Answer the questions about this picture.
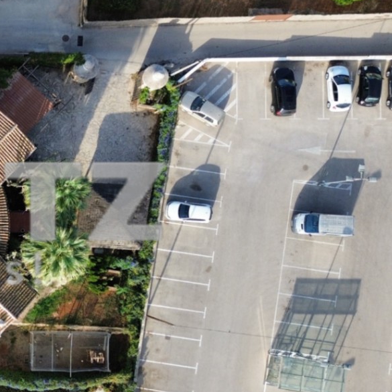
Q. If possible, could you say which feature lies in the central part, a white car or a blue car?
white car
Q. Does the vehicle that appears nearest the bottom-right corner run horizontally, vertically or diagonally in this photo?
horizontally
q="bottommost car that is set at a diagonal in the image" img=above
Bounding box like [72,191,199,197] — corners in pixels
[176,91,226,130]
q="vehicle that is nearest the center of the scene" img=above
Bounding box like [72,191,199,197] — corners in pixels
[161,200,211,223]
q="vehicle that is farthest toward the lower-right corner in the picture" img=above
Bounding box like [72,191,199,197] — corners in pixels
[284,210,355,237]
